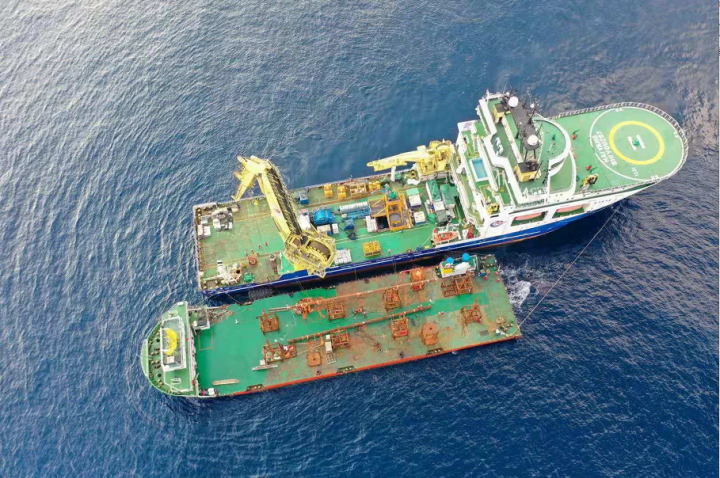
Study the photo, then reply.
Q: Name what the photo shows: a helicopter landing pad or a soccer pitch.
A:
helicopter landing pad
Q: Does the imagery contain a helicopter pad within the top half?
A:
Yes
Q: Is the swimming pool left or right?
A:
right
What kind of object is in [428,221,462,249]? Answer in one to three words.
boat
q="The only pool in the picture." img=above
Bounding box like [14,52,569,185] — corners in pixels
[468,154,489,183]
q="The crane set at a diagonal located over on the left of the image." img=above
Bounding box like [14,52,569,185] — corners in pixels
[227,148,334,281]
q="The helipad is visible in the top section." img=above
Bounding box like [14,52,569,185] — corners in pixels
[553,101,690,194]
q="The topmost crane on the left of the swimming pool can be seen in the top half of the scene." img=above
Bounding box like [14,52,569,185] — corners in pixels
[366,148,451,192]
